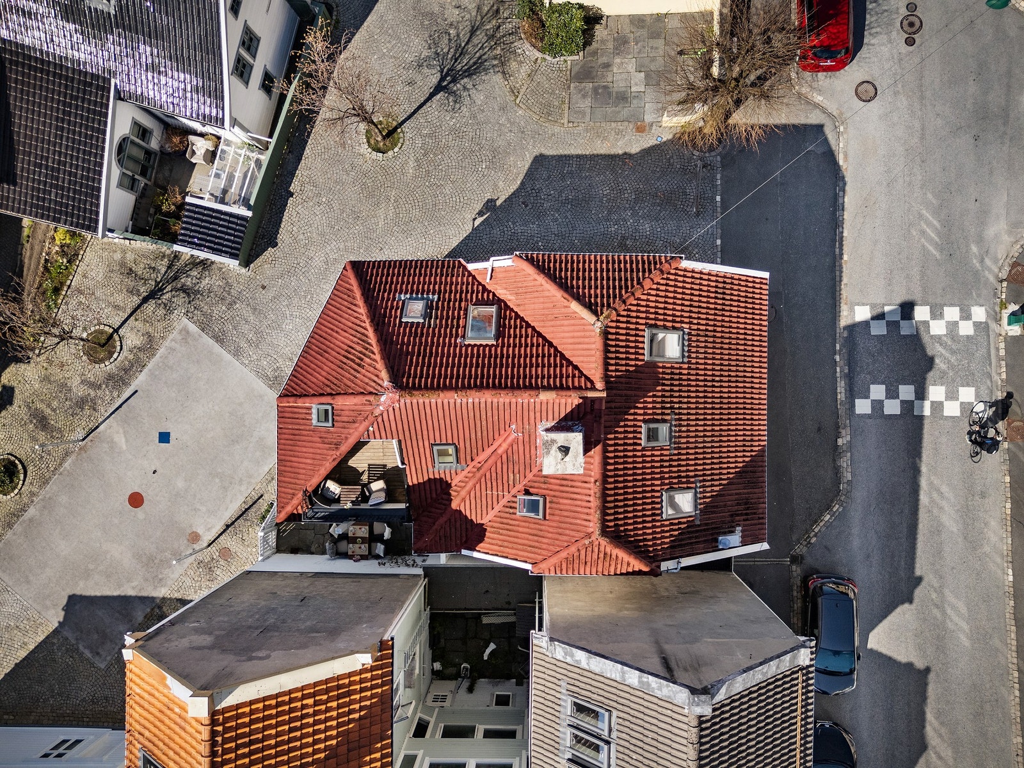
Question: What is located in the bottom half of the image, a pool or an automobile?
automobile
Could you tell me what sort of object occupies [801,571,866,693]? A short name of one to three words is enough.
car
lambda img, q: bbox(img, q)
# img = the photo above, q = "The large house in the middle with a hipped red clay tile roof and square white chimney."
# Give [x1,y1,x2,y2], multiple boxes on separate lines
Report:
[273,250,772,578]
